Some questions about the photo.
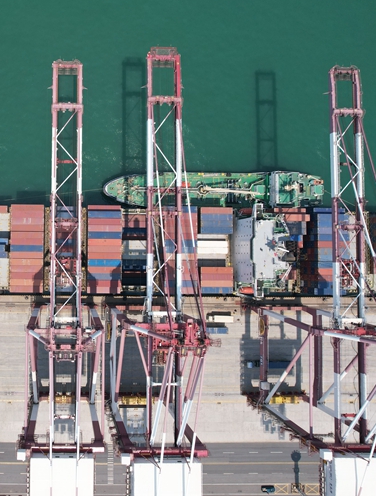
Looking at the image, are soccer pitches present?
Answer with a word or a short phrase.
No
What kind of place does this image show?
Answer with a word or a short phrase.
port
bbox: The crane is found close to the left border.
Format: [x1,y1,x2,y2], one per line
[16,58,113,496]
